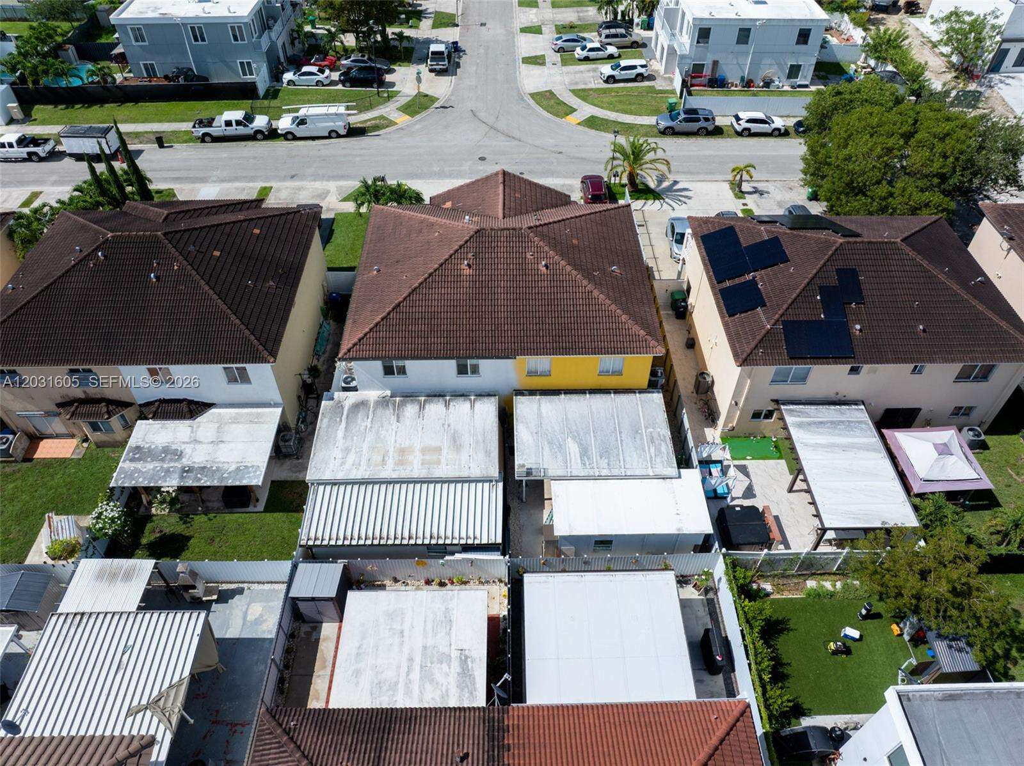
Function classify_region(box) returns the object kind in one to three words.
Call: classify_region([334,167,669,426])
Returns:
house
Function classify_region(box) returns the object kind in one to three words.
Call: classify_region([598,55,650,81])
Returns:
car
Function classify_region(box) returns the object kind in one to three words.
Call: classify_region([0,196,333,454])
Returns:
house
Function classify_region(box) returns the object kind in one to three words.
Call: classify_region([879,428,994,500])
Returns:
gazebo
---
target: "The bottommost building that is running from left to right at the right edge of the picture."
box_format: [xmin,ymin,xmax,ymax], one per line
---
[831,686,1024,766]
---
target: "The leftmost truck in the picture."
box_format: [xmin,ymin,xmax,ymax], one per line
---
[0,129,62,160]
